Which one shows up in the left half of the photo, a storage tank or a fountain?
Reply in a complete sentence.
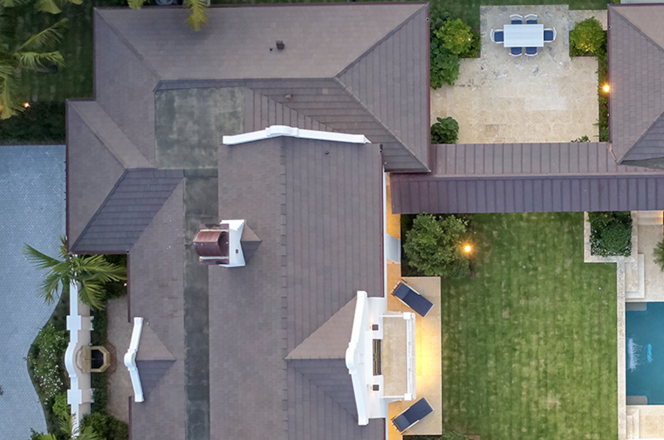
The feature located in the left half of the photo is a fountain.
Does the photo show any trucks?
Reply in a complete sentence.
No, there isn't any truck down there.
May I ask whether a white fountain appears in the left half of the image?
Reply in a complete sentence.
No, no white fountain can be made out in the left half of the image.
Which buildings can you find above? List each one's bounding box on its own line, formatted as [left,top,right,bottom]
[605,0,664,173]
[63,0,436,440]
